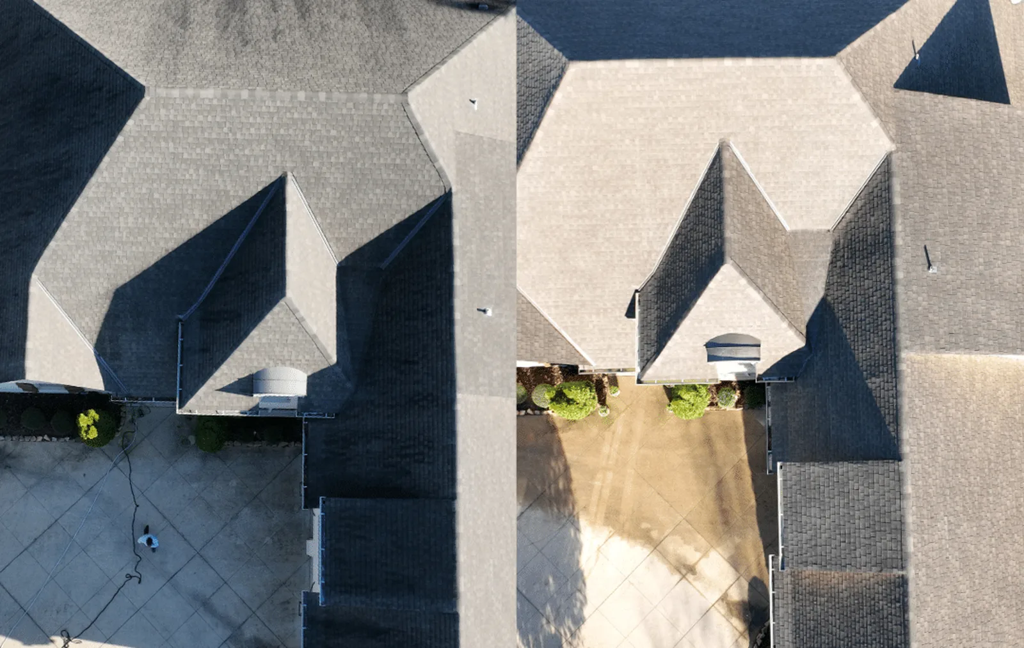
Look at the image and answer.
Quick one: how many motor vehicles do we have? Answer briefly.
zero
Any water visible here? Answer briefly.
No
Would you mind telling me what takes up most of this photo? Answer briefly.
buildings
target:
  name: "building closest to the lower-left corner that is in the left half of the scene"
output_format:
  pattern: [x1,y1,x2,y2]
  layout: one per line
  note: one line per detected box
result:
[0,0,517,648]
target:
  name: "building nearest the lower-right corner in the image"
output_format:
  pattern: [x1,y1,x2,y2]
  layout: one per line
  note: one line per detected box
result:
[516,0,1024,648]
